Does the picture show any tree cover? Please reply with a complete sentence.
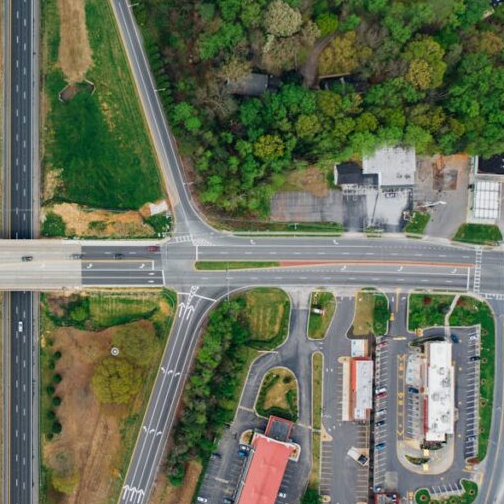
Yes, there is tree cover in the image.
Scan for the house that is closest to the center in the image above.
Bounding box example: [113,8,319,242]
[334,164,380,191]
